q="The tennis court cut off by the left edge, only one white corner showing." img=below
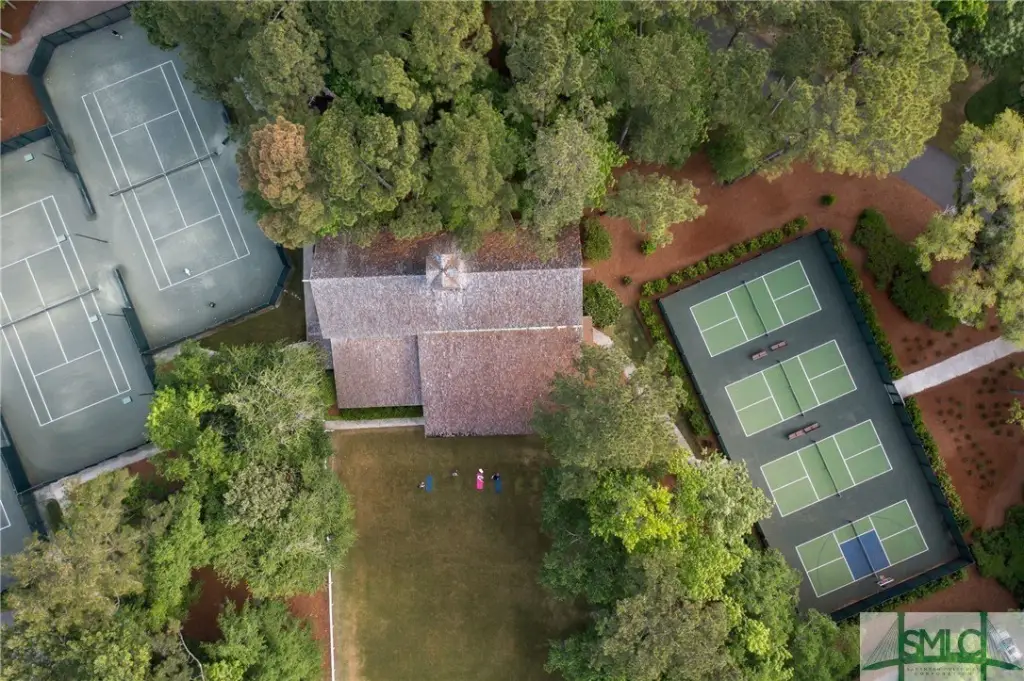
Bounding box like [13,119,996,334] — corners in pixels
[0,440,49,592]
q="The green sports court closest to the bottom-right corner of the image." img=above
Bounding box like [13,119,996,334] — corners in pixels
[797,500,927,596]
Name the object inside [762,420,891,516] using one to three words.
sports court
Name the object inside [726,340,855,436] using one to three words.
sports court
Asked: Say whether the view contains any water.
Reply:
No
